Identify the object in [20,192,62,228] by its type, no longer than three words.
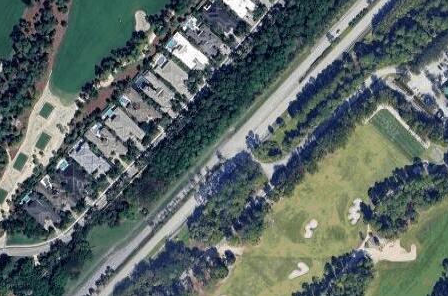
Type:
house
